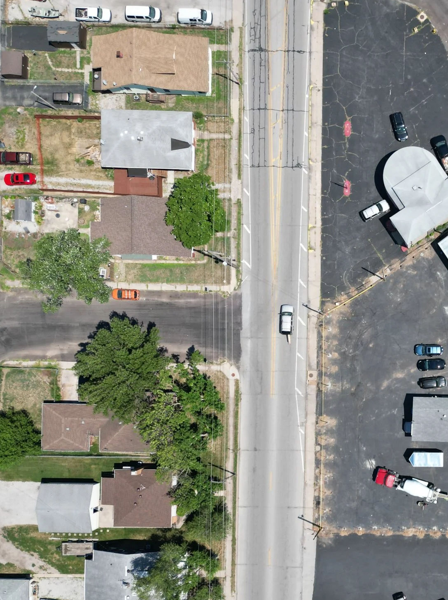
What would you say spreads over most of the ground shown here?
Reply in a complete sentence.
What you mostly see from above here is paved ground.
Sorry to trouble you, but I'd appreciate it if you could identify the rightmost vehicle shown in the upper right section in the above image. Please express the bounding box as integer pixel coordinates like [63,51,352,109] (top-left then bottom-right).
[432,135,448,174]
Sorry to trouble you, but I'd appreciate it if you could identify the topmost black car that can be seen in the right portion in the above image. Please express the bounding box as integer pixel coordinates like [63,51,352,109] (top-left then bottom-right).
[390,112,408,144]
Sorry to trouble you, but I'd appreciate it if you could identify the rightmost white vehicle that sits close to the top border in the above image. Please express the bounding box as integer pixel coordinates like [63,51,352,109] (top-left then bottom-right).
[175,7,214,25]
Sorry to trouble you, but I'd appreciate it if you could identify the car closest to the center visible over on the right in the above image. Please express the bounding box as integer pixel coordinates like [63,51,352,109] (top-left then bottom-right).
[279,305,294,335]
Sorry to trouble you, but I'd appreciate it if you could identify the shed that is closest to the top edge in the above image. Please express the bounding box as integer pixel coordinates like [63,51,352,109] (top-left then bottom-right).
[45,19,86,48]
